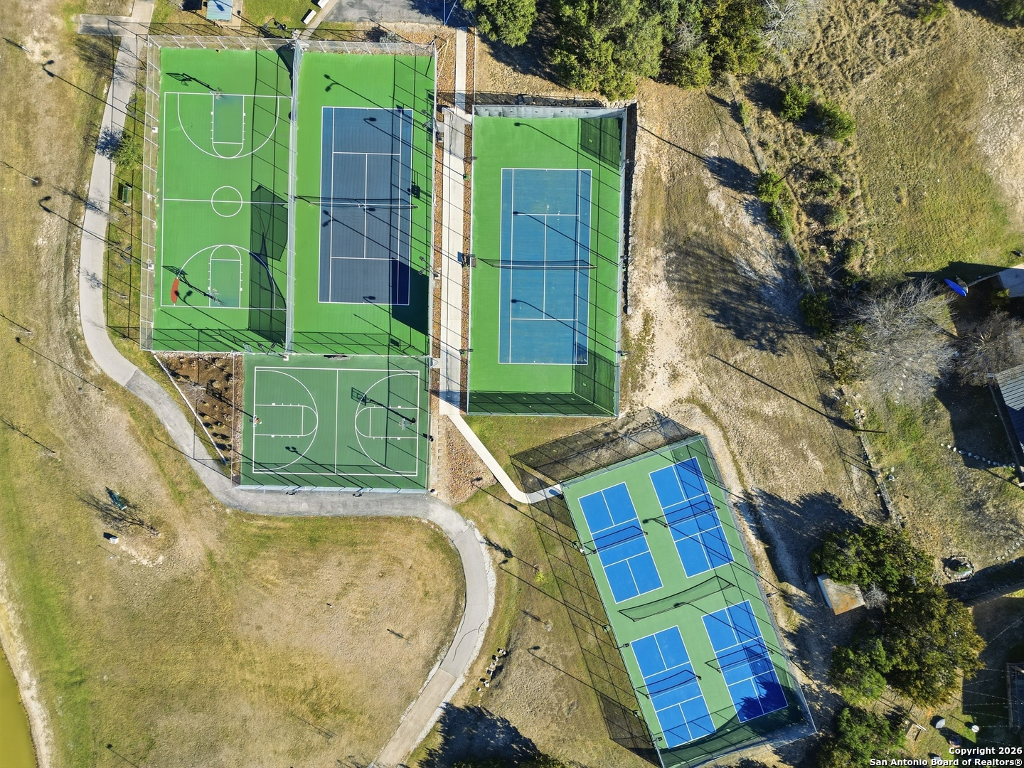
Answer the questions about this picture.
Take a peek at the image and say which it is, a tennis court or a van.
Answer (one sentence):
Looking from above, you can make out a tennis court.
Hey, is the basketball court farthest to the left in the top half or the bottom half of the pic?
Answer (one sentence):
Seen from above, the basketball court farthest to the left lies in the top half of the view.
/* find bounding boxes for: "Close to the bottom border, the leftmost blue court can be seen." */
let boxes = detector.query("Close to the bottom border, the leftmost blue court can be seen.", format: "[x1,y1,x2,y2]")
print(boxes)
[630,626,716,749]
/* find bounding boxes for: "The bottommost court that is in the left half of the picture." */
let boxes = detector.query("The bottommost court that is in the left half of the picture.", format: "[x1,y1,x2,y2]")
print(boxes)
[241,354,430,490]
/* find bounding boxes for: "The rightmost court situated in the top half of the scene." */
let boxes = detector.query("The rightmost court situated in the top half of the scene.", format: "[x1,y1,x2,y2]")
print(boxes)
[468,118,622,414]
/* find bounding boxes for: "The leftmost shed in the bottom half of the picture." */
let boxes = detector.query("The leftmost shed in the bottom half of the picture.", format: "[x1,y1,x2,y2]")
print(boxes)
[816,566,865,615]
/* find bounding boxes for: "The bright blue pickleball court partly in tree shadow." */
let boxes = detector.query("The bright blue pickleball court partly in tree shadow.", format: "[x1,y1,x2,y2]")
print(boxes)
[702,600,788,724]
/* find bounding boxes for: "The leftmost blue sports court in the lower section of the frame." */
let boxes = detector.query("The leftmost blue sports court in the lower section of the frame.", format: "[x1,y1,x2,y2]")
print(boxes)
[578,482,663,604]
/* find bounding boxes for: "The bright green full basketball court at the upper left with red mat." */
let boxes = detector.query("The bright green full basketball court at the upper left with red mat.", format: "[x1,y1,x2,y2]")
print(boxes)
[153,48,303,353]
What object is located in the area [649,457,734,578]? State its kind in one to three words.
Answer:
sports court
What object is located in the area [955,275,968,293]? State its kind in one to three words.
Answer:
boat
